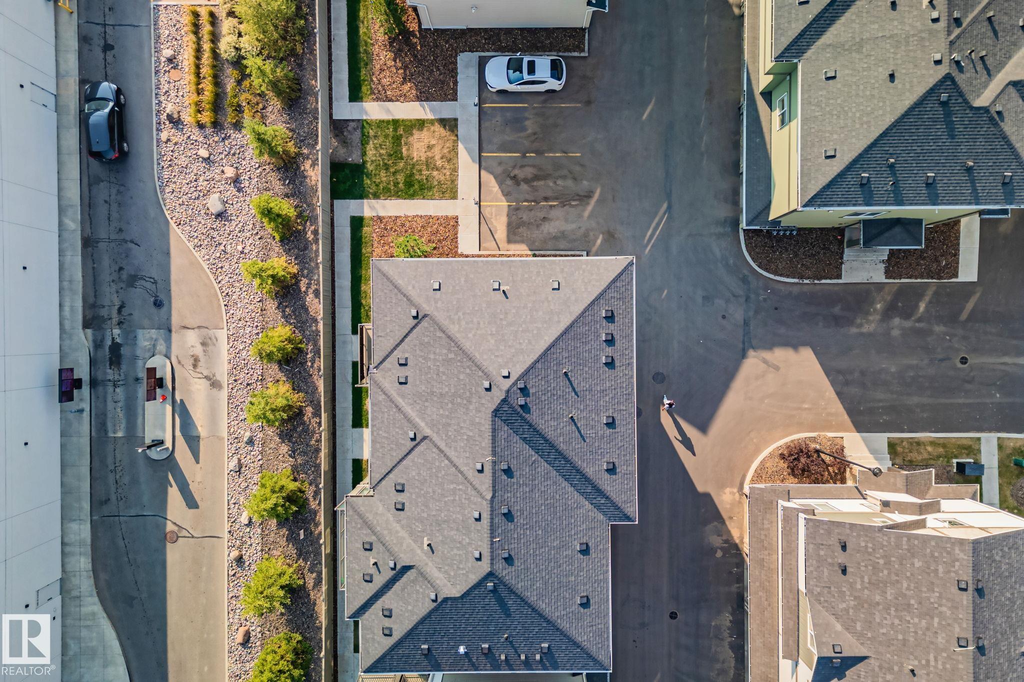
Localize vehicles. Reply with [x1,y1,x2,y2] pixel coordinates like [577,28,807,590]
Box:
[81,83,131,163]
[485,49,565,92]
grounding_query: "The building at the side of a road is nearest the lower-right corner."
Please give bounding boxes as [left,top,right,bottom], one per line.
[742,462,1024,682]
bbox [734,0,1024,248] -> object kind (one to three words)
house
